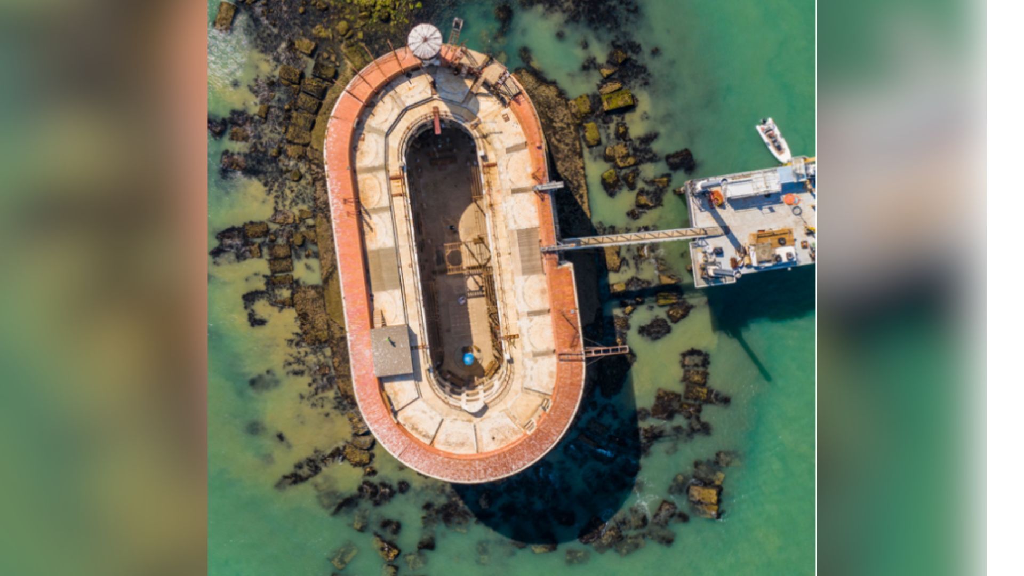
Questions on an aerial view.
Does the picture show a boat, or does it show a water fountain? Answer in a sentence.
This aerial view contains a boat.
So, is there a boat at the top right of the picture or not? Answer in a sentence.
Yes, I can see a boat at the top right of the picture.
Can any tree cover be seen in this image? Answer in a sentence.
No, there's no tree cover in this view.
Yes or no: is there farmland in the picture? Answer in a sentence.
No, farmland can't be seen anywhere here.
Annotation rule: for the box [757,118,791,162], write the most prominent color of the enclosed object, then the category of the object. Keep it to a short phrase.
white boat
